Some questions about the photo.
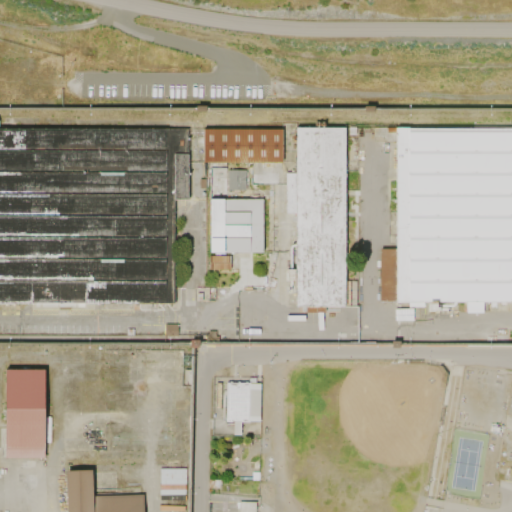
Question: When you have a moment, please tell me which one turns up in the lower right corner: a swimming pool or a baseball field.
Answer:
baseball field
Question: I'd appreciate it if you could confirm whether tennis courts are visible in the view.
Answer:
Yes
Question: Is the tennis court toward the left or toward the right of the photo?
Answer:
right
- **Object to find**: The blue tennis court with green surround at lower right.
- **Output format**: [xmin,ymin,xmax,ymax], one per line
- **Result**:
[448,428,489,498]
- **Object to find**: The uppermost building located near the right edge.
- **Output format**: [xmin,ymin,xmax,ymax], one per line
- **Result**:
[396,127,512,303]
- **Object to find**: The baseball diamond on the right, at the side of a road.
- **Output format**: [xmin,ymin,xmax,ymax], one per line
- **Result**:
[344,364,437,461]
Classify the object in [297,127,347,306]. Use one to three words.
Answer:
building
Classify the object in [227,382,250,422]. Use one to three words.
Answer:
building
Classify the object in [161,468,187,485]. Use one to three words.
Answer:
shed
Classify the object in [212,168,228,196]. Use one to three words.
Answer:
house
